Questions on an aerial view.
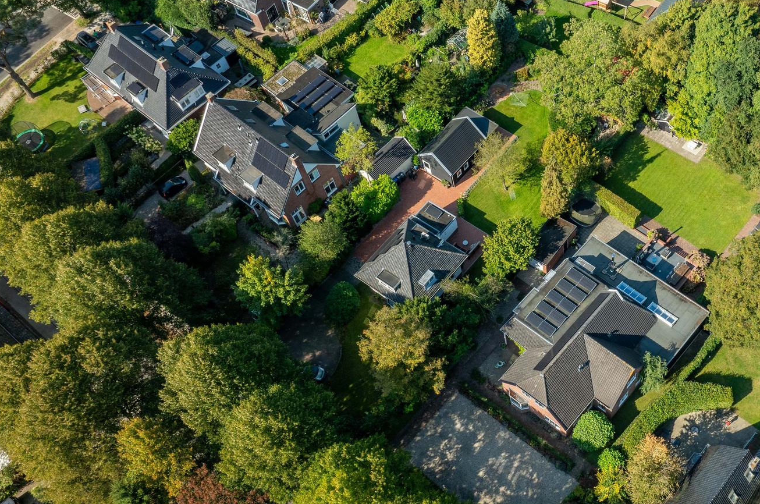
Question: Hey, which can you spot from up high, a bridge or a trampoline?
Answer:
trampoline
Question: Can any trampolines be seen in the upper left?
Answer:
Yes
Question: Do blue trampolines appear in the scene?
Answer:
No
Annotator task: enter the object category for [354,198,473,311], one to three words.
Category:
house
